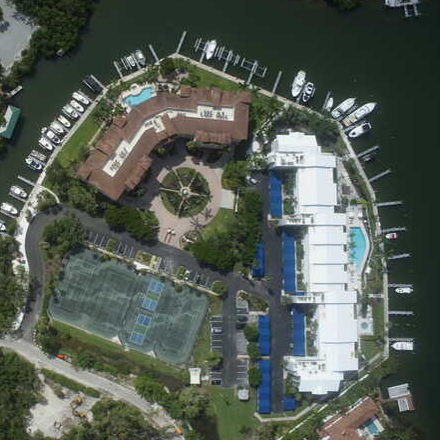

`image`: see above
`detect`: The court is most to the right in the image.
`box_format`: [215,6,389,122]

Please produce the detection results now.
[153,293,198,357]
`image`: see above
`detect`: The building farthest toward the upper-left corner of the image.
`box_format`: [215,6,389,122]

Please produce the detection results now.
[0,106,21,138]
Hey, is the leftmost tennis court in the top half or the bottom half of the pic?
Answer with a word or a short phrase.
bottom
